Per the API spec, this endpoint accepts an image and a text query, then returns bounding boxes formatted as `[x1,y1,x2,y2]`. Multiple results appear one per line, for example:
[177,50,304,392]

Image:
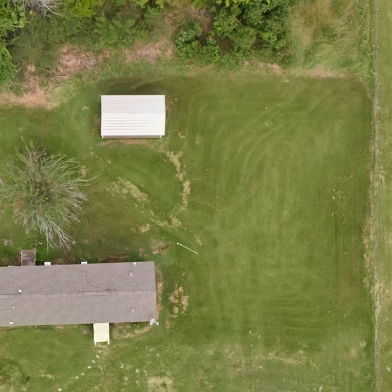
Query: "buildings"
[97,95,166,141]
[0,261,157,326]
